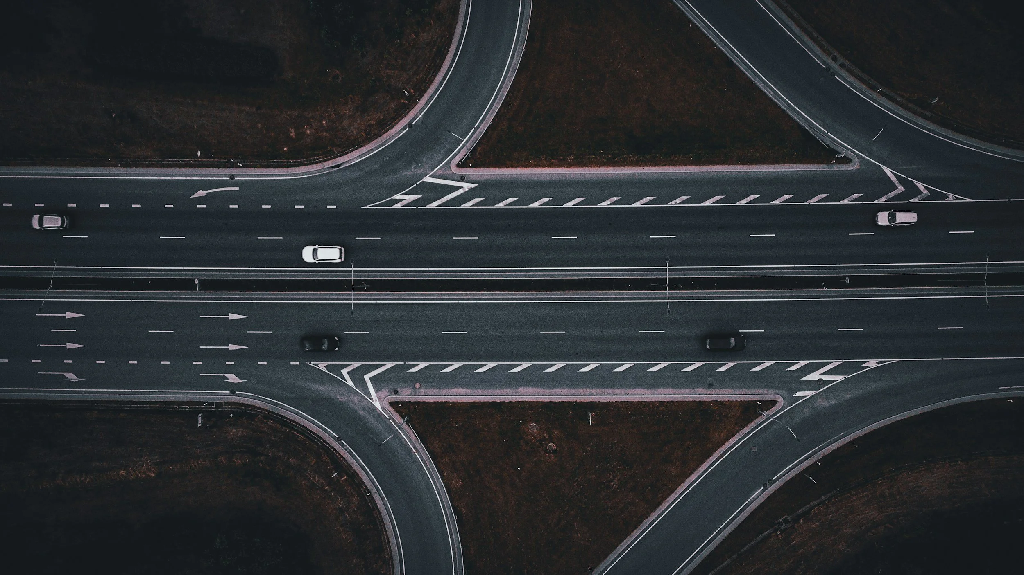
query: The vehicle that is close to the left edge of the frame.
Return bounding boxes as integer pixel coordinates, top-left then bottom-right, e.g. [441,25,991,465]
[32,212,72,231]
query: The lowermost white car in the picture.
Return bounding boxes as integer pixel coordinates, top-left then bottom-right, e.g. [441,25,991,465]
[302,244,345,264]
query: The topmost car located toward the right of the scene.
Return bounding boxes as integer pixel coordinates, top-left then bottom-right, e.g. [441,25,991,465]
[874,208,918,227]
